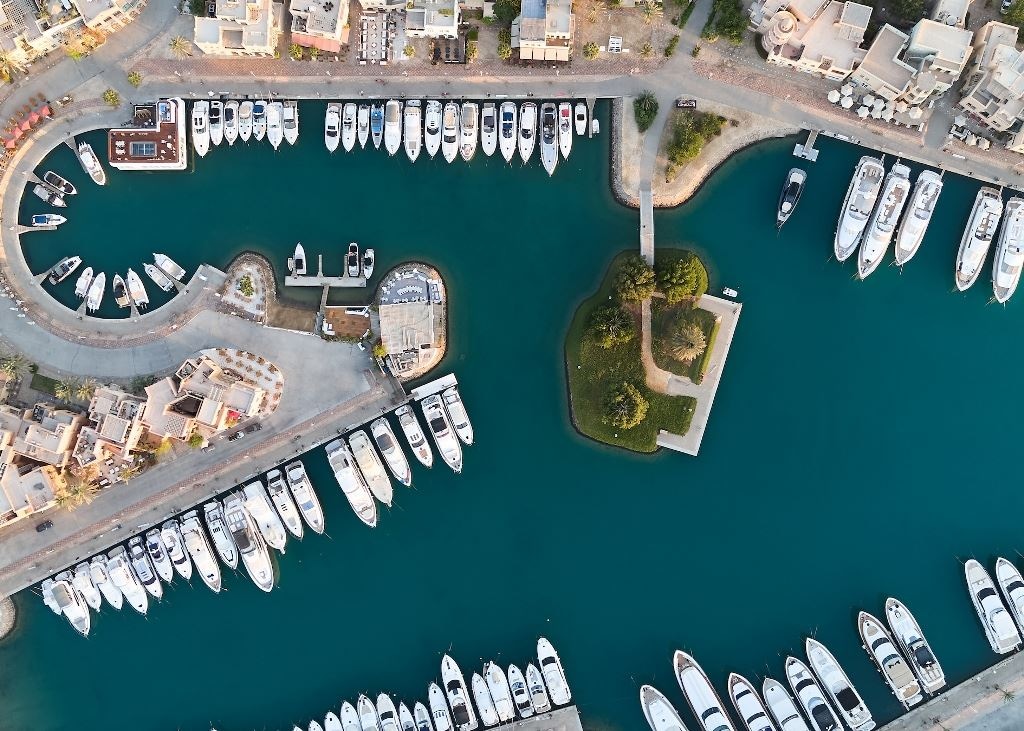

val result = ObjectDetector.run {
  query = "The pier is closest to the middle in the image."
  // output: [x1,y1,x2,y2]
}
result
[404,374,458,403]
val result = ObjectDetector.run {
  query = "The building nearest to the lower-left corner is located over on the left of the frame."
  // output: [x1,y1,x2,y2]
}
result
[0,461,68,528]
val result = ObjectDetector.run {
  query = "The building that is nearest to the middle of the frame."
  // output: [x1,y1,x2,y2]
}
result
[380,301,436,372]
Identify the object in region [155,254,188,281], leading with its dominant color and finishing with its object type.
white boat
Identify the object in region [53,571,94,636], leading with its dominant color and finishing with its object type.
white boat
